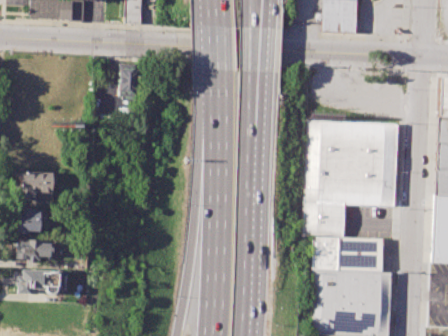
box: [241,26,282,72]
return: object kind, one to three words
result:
overpass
